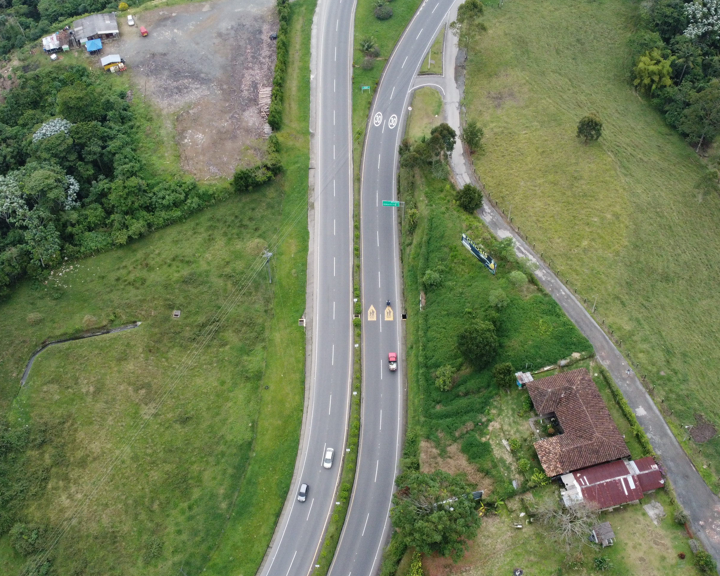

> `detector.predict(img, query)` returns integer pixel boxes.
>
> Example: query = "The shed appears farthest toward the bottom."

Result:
[590,517,619,550]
